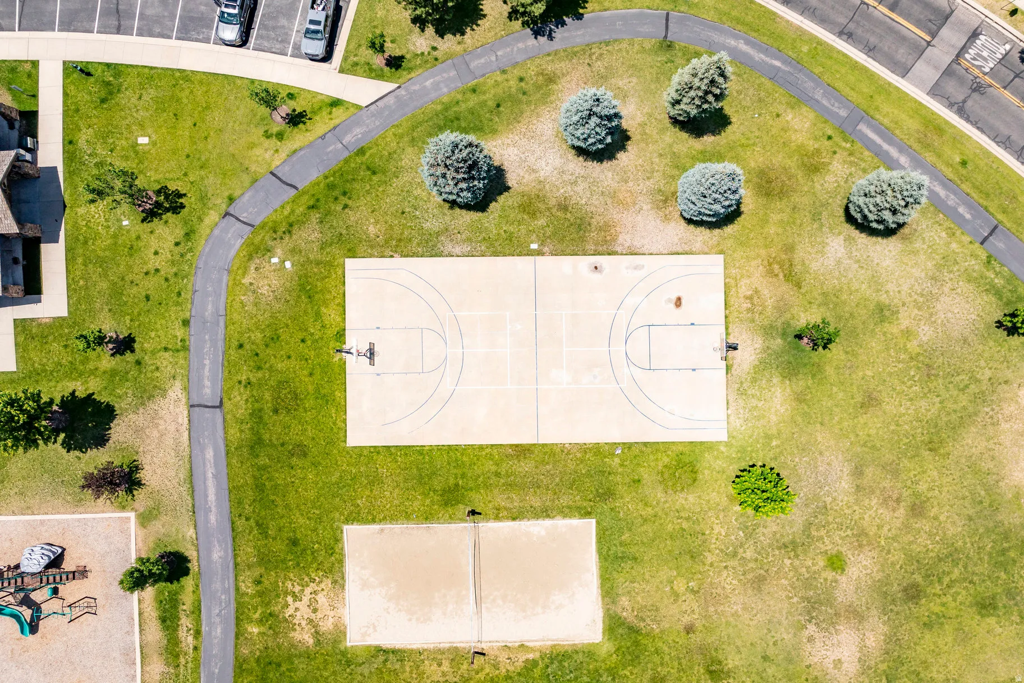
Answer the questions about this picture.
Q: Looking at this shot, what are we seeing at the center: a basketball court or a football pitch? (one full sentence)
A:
What appears at the center is a basketball court.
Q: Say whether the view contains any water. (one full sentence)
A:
No, the scene doesn't show any water.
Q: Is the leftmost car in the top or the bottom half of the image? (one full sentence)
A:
It is in the top half that the leftmost car appears.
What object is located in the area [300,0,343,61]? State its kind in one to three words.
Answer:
truck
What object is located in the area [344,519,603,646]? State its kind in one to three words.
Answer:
sports court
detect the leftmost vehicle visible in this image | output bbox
[215,0,259,49]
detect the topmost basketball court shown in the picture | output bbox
[345,255,727,447]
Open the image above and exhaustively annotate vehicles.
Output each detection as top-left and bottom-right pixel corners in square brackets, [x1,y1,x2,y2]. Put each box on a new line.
[300,0,343,61]
[215,0,259,49]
